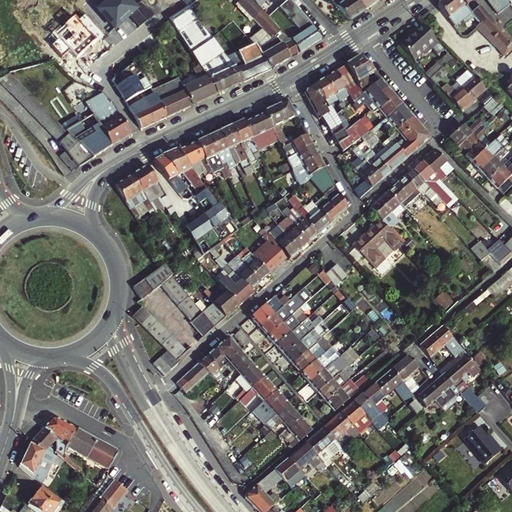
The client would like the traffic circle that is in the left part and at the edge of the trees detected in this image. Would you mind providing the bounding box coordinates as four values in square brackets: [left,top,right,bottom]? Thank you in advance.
[0,204,132,367]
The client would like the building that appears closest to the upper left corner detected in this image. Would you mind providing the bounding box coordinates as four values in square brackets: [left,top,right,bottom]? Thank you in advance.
[51,14,106,72]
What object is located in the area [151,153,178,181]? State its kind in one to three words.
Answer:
house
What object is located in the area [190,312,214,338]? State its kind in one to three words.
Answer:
building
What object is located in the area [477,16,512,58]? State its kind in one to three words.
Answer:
house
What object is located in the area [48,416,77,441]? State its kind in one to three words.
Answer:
building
